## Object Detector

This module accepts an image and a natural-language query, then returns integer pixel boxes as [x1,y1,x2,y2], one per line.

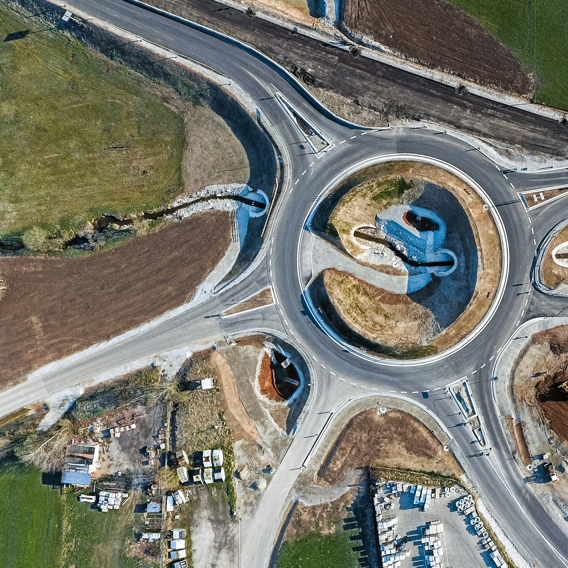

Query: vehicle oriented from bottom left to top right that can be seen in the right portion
[397,536,412,552]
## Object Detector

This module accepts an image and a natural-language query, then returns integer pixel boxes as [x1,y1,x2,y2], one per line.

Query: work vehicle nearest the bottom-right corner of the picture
[544,461,561,486]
